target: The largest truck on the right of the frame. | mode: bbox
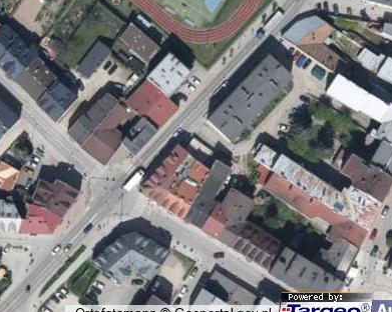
[258,8,286,38]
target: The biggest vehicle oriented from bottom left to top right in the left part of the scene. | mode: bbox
[123,169,145,190]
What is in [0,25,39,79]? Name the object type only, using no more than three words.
house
